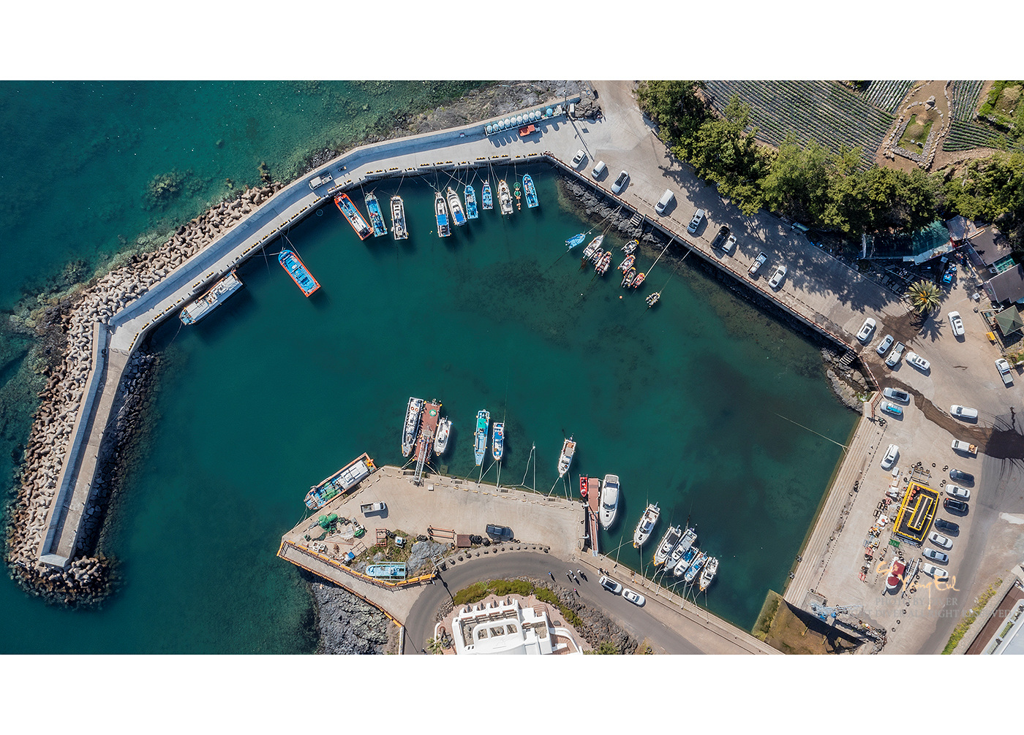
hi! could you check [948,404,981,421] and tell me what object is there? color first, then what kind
white vehicle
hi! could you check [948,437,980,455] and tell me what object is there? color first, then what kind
white car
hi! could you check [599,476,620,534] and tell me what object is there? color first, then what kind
white boat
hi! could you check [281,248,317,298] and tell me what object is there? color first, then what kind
blue boat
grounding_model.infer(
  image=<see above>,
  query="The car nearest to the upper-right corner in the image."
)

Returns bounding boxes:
[946,311,968,337]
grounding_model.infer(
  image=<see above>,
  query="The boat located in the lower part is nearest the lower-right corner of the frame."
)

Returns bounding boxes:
[885,556,908,592]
